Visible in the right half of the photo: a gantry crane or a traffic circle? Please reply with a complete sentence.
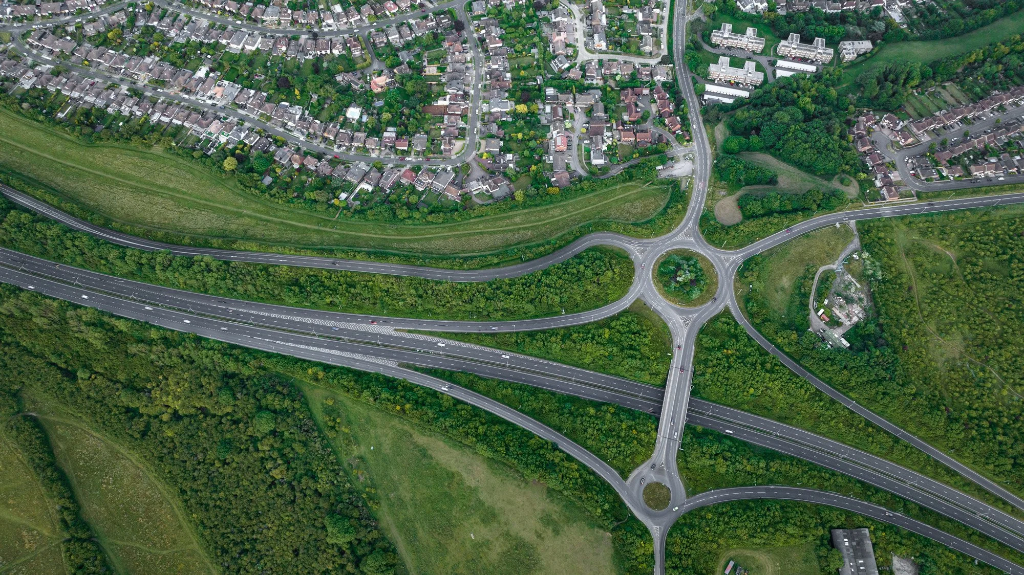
Looking in the right half of the photo, you will find a traffic circle.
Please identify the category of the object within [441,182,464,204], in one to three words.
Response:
house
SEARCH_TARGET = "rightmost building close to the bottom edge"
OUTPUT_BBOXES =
[828,529,879,575]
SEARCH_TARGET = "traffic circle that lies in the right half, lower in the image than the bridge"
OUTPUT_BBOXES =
[614,445,687,536]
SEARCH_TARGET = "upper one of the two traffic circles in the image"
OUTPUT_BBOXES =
[597,222,768,346]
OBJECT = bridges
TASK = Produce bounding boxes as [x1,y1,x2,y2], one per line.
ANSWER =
[656,345,694,448]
